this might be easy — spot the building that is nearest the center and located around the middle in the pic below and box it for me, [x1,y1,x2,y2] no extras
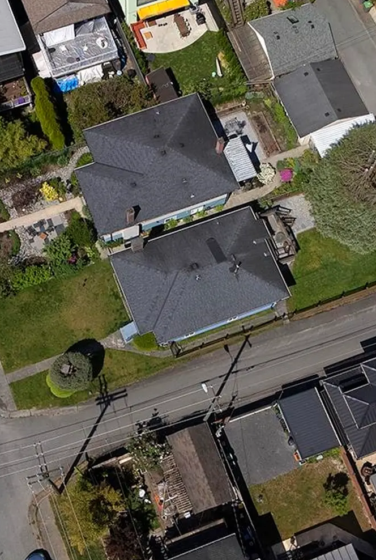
[108,206,291,349]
